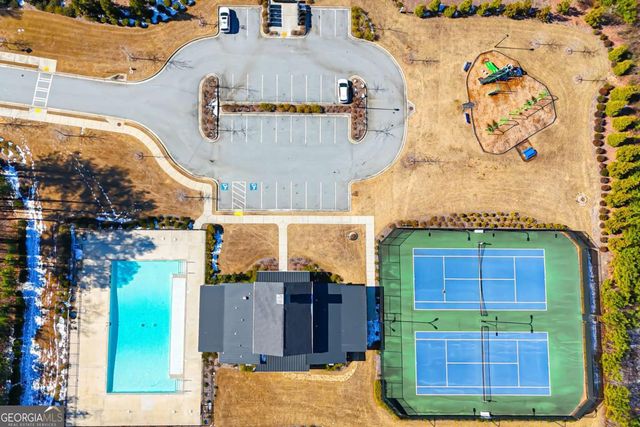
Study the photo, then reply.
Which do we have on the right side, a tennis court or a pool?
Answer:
tennis court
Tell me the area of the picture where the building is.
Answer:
bottom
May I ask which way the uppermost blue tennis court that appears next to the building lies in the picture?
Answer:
from left to right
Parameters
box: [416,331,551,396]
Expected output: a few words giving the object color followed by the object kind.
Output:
blue tennis court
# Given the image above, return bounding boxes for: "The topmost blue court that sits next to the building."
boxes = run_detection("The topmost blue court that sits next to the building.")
[413,248,547,311]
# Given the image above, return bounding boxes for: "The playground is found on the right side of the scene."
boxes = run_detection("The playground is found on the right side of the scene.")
[468,49,557,162]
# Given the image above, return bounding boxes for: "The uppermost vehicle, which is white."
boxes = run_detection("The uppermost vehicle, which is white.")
[218,6,231,32]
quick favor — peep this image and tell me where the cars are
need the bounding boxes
[218,6,231,32]
[338,79,349,103]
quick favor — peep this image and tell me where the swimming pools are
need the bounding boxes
[69,230,208,424]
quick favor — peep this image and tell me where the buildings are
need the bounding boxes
[198,271,368,372]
